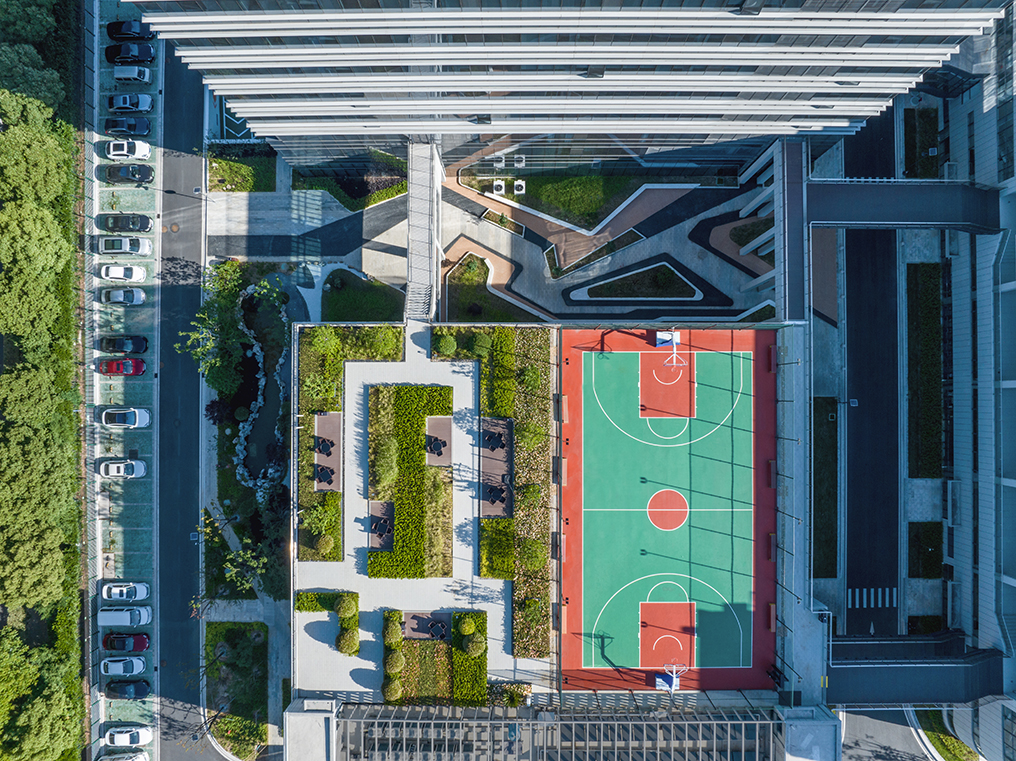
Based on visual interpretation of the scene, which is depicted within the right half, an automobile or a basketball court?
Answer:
basketball court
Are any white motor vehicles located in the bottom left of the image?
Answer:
Yes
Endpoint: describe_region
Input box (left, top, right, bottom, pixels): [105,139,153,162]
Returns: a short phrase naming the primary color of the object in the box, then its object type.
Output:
white car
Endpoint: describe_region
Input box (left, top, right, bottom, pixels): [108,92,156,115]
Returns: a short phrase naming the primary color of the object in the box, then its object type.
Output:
blue car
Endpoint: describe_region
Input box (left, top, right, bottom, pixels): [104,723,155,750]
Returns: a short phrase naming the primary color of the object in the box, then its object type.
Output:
white car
